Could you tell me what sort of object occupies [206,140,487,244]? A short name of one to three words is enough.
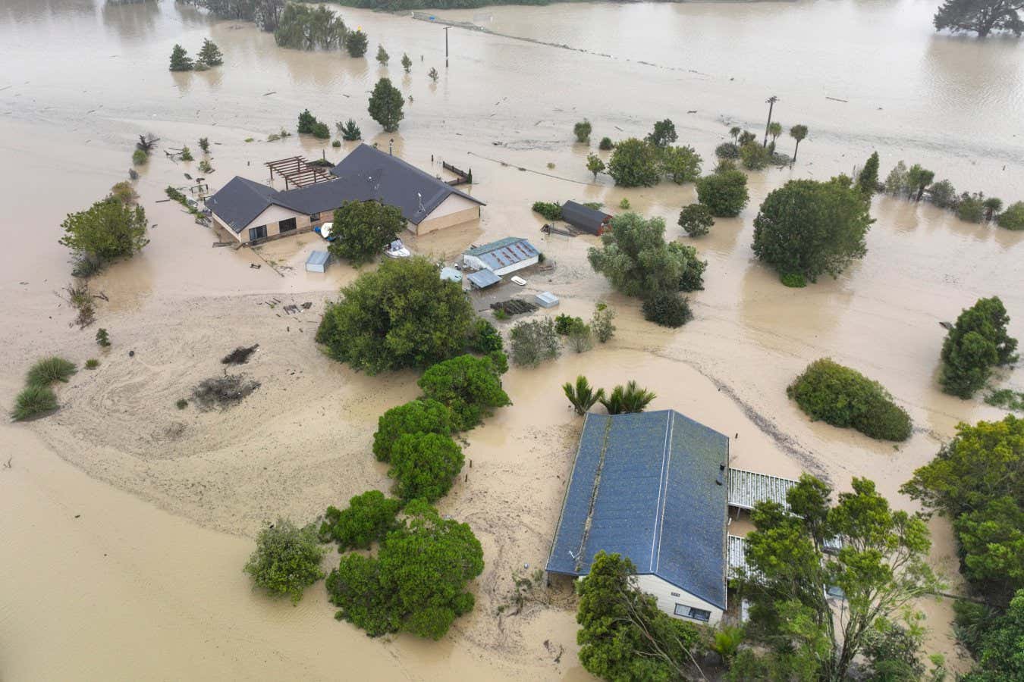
house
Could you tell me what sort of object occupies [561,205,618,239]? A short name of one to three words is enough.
building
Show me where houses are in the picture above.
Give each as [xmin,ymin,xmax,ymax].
[541,408,817,626]
[206,140,487,244]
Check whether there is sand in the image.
No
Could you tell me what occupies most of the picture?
water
